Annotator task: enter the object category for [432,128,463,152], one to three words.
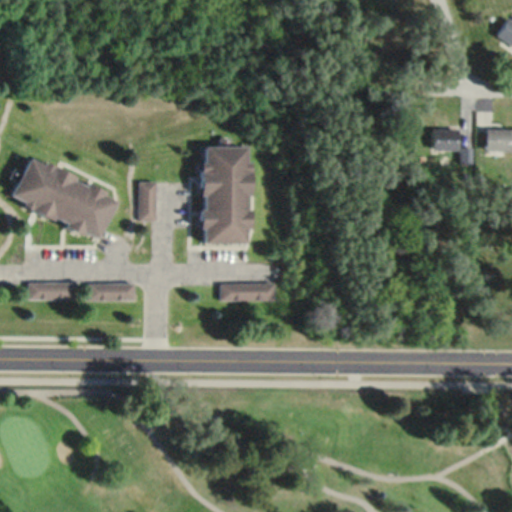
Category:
house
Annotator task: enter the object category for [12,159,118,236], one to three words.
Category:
building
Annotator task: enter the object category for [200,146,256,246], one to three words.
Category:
building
